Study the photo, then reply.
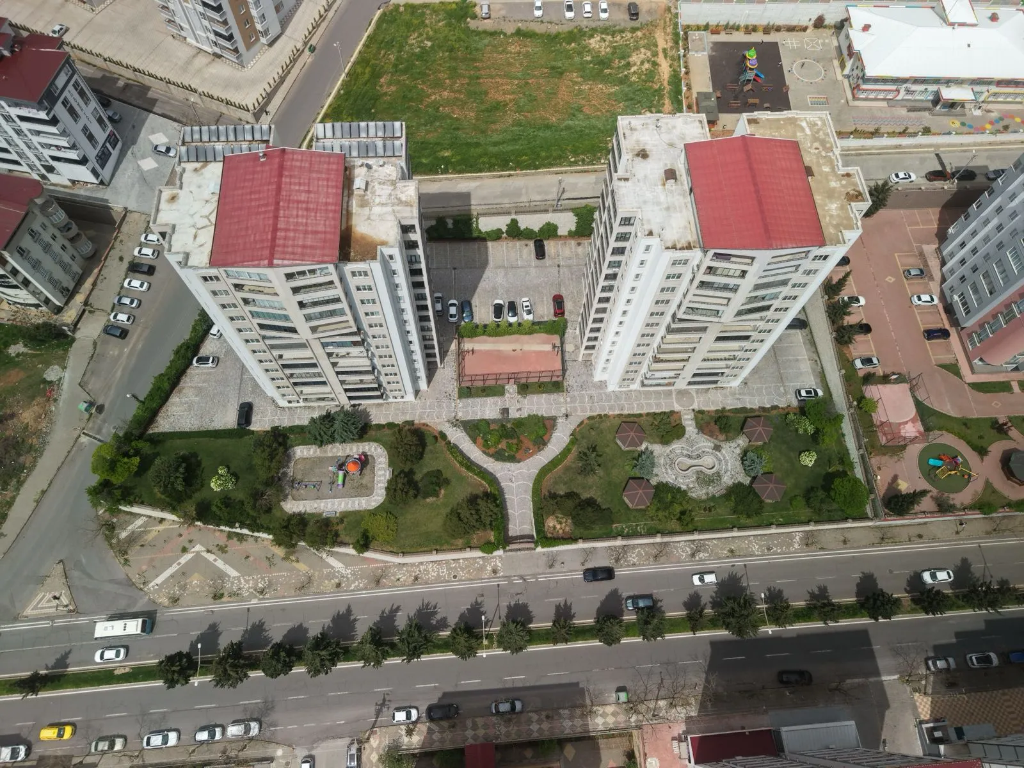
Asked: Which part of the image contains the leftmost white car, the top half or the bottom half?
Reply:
bottom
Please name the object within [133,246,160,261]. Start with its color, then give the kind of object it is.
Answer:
white car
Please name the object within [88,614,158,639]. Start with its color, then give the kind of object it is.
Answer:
white bus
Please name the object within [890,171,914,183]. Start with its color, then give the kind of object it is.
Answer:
white vehicle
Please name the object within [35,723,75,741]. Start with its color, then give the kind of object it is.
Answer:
yellow car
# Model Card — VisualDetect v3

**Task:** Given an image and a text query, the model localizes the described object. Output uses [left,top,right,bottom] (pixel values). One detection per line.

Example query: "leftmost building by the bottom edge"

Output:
[684,728,779,768]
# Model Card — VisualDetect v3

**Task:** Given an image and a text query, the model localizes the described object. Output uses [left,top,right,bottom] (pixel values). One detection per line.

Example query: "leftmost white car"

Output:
[0,743,32,763]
